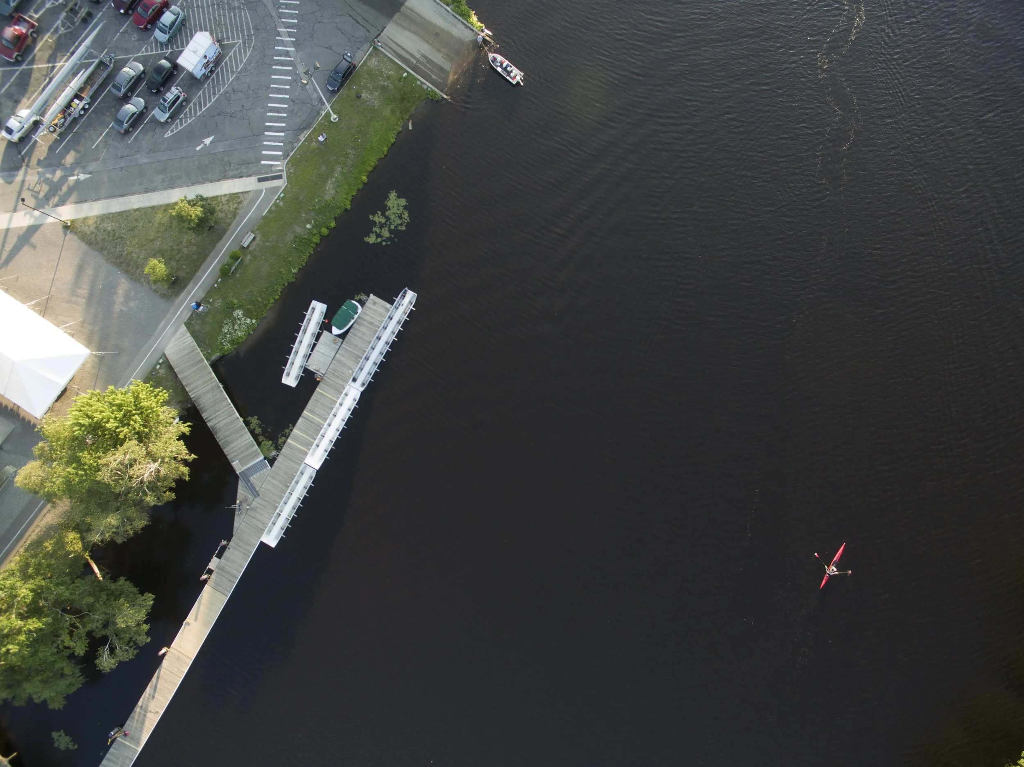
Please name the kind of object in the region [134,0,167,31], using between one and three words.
car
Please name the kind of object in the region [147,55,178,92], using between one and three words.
car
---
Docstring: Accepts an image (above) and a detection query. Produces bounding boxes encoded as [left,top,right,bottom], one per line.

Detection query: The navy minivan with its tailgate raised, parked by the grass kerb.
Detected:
[326,47,357,93]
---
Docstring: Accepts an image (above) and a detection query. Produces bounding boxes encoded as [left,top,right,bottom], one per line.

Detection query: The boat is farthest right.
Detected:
[815,543,850,589]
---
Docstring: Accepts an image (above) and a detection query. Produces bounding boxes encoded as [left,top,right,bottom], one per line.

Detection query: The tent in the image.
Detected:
[0,275,121,421]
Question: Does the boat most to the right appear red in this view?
Yes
